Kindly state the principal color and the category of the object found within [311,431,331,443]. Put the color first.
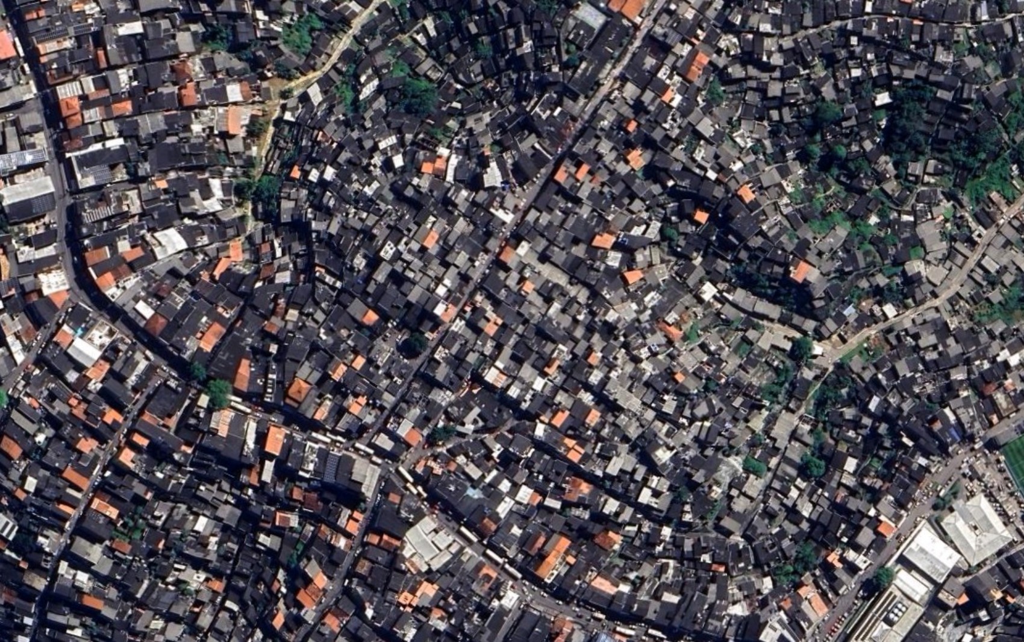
white vehicle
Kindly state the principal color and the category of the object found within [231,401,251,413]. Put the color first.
white vehicle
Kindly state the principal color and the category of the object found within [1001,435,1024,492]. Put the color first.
green soccer field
